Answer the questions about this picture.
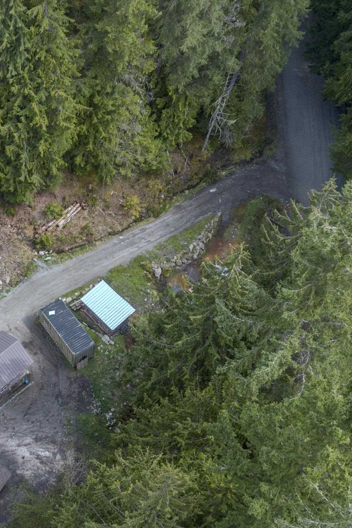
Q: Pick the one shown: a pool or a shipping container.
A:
shipping container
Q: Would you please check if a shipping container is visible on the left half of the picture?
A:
Yes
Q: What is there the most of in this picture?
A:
trees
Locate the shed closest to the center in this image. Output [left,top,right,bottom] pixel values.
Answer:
[78,278,137,337]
